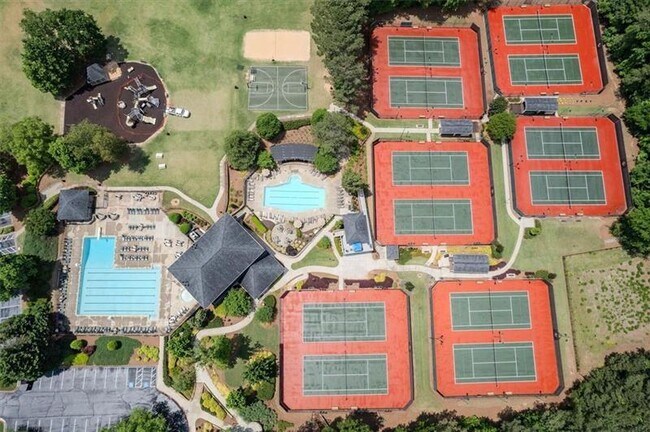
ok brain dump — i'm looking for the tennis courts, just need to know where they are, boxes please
[428,279,554,337]
[371,141,491,192]
[508,165,628,216]
[281,347,411,410]
[281,290,408,349]
[488,48,603,96]
[430,335,560,396]
[374,192,494,245]
[369,70,484,119]
[368,25,481,72]
[505,116,621,165]
[484,4,596,49]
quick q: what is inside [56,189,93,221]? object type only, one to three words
building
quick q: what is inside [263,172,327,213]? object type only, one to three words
swimming pool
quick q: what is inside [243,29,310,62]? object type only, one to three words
sports court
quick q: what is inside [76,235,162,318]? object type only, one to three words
swimming pool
